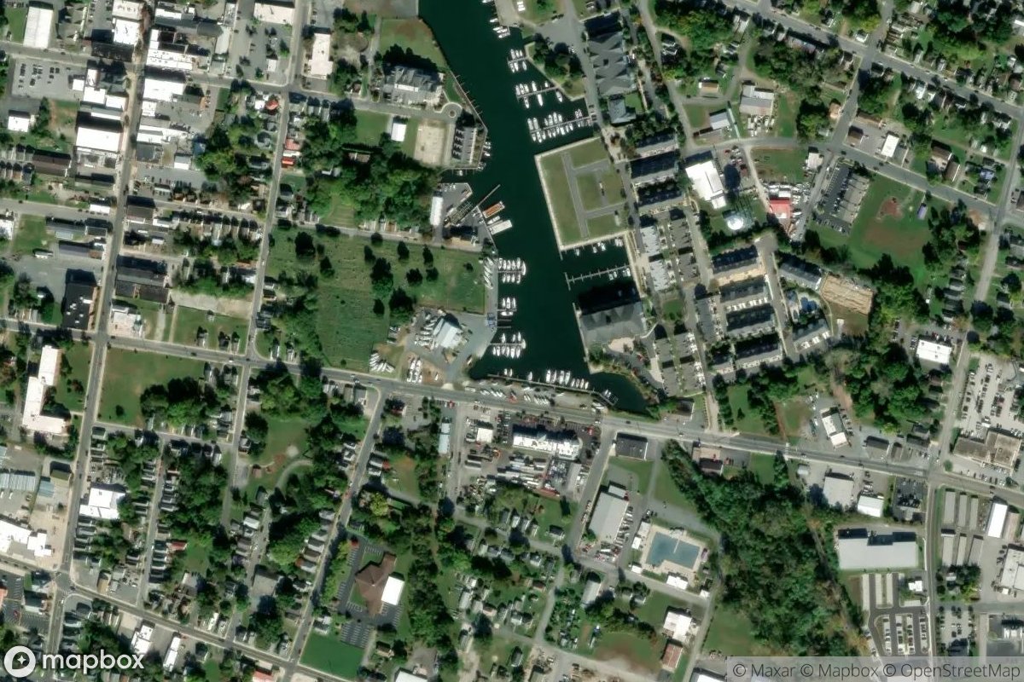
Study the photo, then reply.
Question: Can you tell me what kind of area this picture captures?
residential area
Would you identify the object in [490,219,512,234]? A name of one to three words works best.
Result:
ship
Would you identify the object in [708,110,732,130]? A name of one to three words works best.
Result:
house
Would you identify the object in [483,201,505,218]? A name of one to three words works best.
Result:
ship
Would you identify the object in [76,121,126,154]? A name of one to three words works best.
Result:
building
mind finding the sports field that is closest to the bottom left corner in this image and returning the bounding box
[299,632,364,679]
